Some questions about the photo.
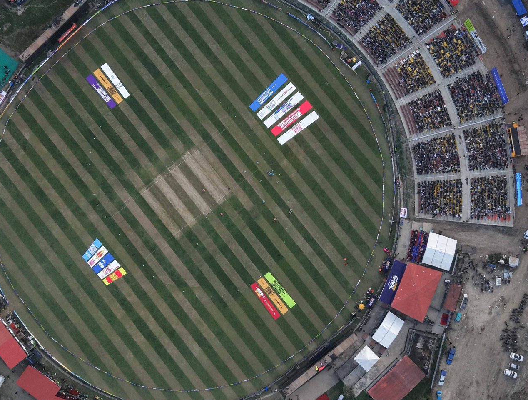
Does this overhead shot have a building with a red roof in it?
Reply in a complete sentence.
Yes, the picture does show a building with a red roof.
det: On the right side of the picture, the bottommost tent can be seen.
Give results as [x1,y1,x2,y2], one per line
[353,345,379,372]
